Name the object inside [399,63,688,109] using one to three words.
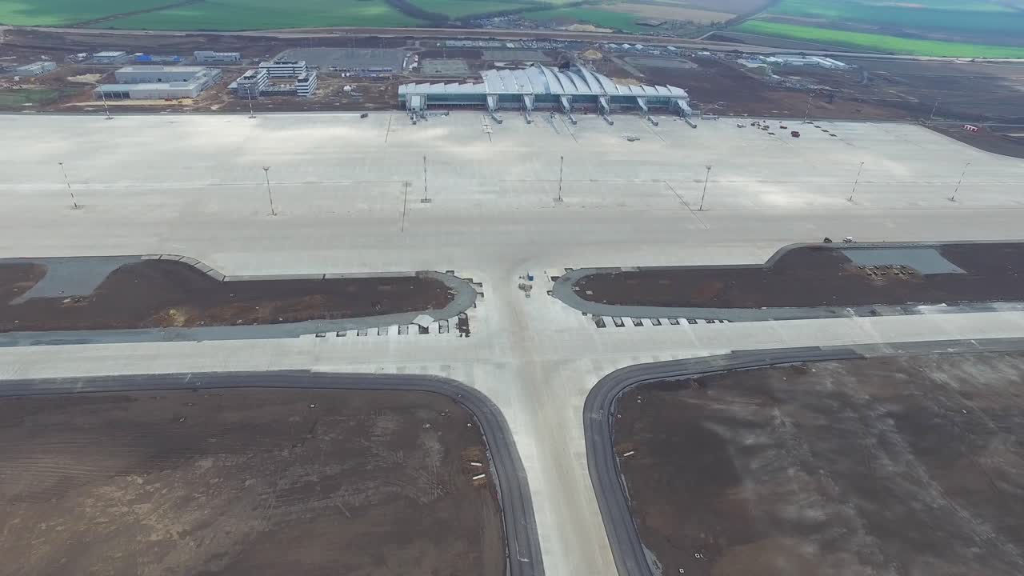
building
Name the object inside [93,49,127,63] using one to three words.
building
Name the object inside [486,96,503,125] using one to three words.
jet bridge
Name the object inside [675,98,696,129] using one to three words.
jet bridge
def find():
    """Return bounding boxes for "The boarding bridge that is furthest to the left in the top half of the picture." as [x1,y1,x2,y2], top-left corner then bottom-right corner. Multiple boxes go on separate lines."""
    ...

[410,95,425,127]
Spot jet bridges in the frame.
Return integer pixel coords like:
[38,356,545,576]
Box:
[675,98,696,129]
[410,95,425,127]
[486,96,503,125]
[636,99,658,126]
[522,97,532,125]
[558,97,576,126]
[597,98,613,126]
